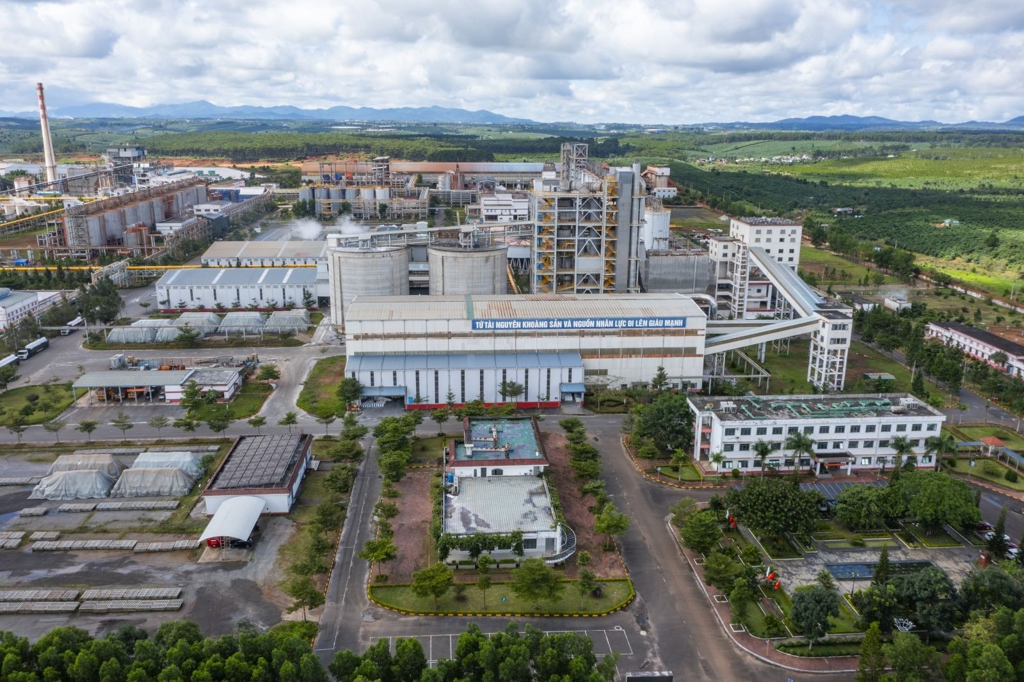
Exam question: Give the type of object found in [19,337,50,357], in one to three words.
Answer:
vehicle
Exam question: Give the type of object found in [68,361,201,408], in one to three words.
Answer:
shed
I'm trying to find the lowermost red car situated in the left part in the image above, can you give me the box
[205,536,223,550]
